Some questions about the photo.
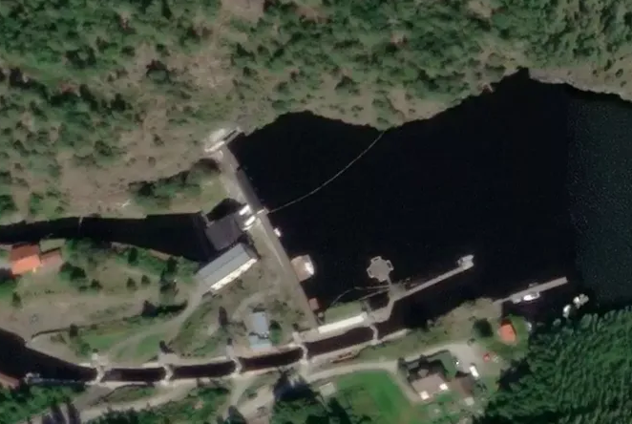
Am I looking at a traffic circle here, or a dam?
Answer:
dam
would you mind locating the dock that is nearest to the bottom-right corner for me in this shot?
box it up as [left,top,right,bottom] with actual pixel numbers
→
[492,276,568,304]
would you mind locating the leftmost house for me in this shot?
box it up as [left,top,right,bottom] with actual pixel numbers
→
[9,247,43,276]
